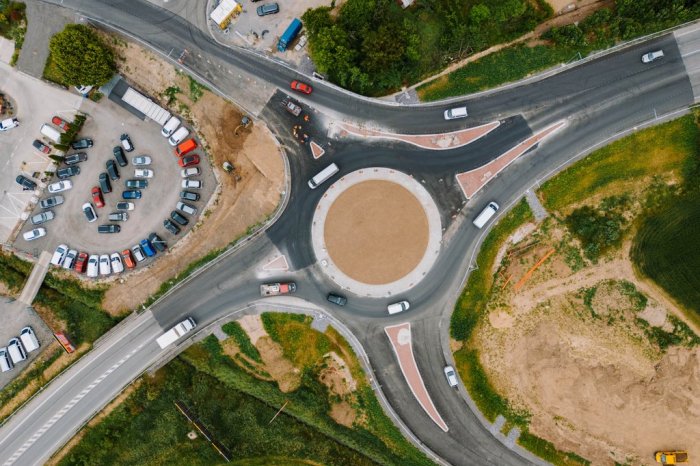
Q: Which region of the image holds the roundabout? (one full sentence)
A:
The roundabout appears toward the center of the photo.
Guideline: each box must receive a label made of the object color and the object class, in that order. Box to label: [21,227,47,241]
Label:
white vehicle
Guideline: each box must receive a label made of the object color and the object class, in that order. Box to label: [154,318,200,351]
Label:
white truck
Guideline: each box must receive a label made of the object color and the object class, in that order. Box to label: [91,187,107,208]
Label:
red car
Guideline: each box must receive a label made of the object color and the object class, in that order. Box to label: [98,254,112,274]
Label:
white vehicle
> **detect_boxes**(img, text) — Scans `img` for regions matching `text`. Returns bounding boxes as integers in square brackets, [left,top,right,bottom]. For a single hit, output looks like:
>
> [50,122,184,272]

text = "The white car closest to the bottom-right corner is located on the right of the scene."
[443,364,461,389]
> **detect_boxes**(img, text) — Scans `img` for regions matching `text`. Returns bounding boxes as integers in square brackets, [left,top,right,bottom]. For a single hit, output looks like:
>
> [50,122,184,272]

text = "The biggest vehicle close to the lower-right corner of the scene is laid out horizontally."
[652,448,690,465]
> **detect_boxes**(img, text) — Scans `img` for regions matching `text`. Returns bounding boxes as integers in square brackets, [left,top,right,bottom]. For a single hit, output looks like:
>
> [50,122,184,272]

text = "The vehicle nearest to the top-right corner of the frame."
[640,49,666,64]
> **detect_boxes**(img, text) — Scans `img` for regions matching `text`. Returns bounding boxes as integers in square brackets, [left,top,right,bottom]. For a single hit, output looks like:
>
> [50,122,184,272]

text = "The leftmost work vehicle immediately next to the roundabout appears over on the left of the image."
[232,115,251,137]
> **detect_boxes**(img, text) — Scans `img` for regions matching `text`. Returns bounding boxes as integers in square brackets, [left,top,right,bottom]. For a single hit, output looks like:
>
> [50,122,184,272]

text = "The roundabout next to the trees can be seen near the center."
[258,90,533,297]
